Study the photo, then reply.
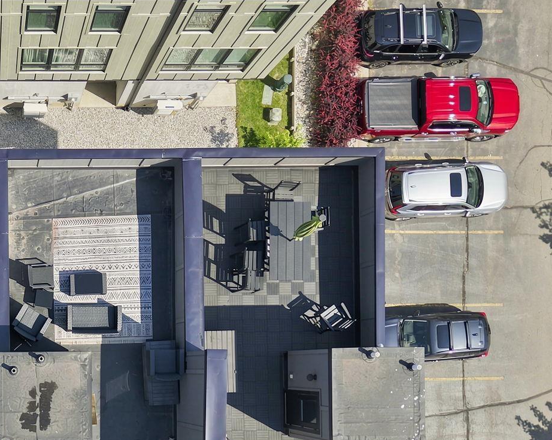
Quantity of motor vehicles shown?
4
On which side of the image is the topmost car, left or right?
right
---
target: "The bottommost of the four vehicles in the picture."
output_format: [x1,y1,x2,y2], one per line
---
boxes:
[384,305,493,360]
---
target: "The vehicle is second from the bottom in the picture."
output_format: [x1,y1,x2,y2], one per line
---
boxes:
[383,156,506,217]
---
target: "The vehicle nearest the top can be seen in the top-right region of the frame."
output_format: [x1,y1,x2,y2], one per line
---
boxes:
[354,2,483,68]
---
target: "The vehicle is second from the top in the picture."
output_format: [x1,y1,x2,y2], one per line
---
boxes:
[354,72,518,141]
